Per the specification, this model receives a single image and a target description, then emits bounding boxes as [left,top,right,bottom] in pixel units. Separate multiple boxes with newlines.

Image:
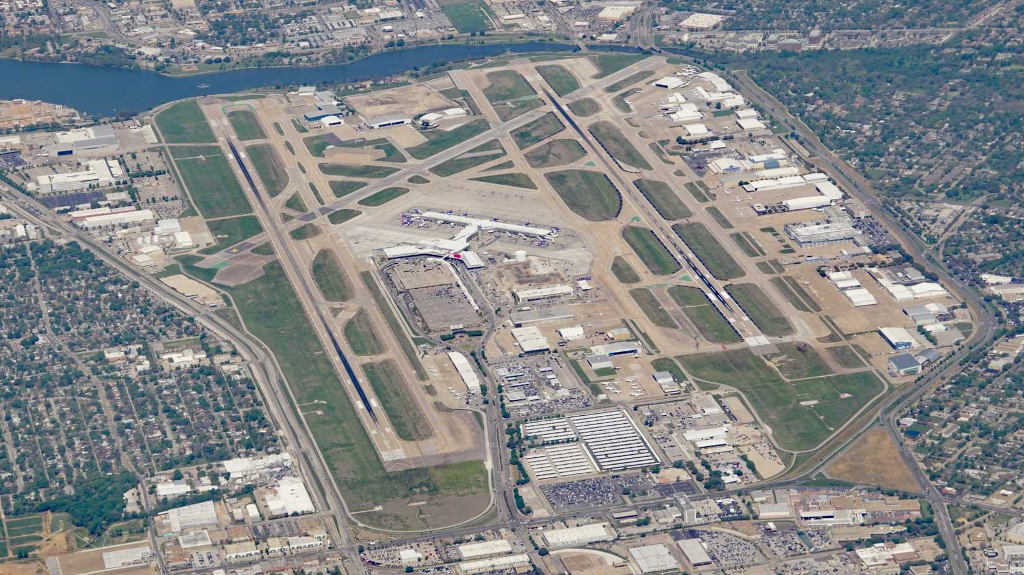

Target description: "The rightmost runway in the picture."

[515,68,773,346]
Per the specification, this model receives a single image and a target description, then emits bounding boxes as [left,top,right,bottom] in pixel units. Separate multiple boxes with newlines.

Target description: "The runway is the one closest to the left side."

[198,100,409,461]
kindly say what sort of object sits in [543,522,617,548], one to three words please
building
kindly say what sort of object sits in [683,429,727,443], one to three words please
building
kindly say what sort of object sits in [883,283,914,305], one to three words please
hangar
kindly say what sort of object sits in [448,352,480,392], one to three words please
hangar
